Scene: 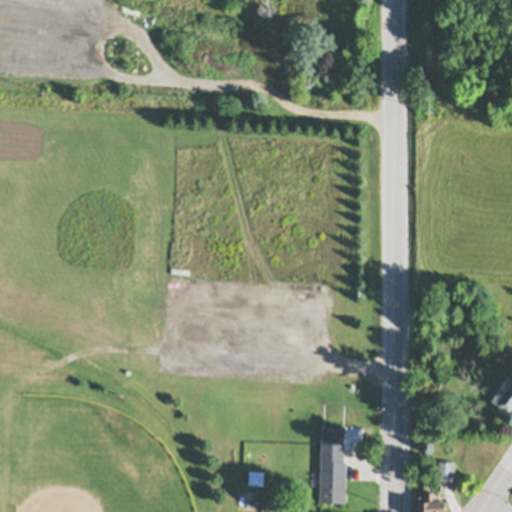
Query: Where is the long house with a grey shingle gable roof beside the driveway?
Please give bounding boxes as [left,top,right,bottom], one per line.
[320,422,347,506]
